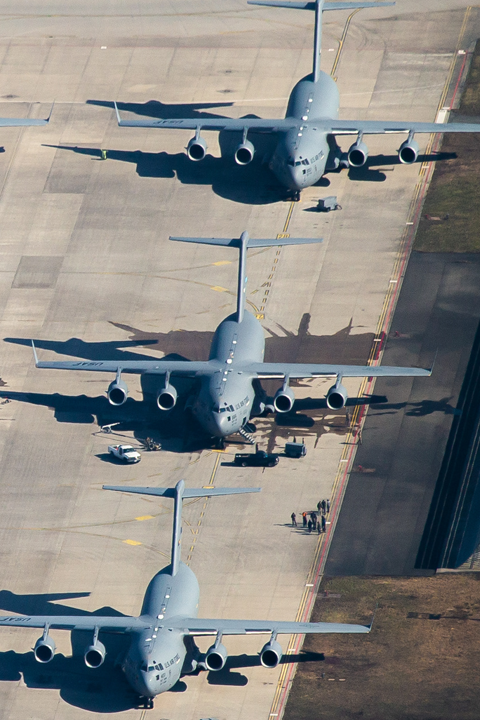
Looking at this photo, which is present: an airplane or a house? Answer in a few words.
airplane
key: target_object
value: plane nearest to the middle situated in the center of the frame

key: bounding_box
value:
[31,228,438,449]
